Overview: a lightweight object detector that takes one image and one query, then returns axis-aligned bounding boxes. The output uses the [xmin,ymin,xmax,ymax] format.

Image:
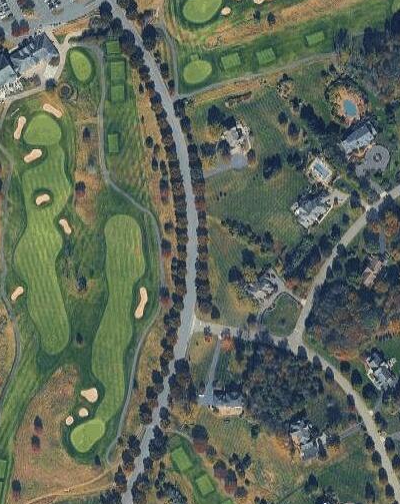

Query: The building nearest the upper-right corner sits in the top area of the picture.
[340,121,380,157]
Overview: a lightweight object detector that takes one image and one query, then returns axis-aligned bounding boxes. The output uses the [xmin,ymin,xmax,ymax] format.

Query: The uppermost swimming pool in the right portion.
[335,87,366,124]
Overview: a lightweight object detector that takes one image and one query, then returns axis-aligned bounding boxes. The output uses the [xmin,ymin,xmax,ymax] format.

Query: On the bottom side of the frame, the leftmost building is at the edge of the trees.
[213,387,244,410]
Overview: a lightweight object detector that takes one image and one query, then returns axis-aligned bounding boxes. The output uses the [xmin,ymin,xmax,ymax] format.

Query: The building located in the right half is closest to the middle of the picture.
[243,275,275,304]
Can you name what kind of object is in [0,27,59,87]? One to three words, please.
building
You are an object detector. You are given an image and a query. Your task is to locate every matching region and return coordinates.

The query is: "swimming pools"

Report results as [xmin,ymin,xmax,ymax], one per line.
[307,156,332,185]
[335,87,366,124]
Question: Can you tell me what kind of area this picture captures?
golf course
